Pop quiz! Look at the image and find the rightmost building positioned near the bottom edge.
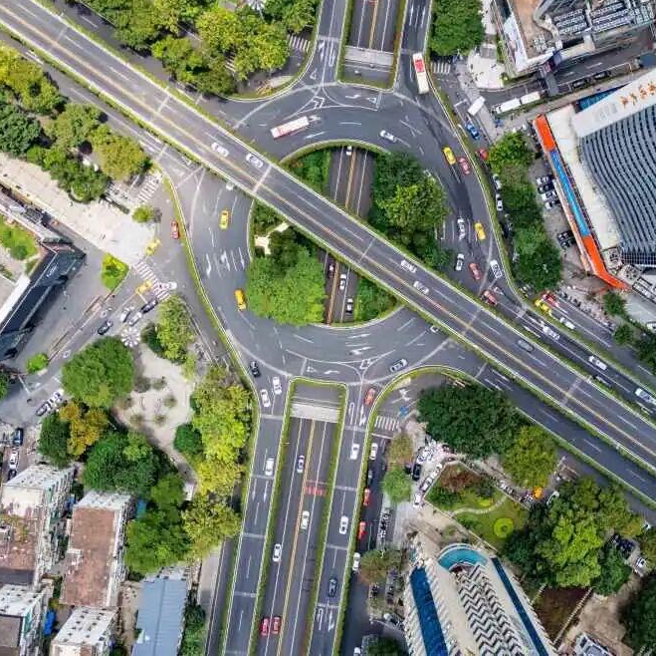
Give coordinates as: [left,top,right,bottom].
[567,622,615,656]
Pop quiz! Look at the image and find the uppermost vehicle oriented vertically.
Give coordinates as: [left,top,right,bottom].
[412,53,430,96]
